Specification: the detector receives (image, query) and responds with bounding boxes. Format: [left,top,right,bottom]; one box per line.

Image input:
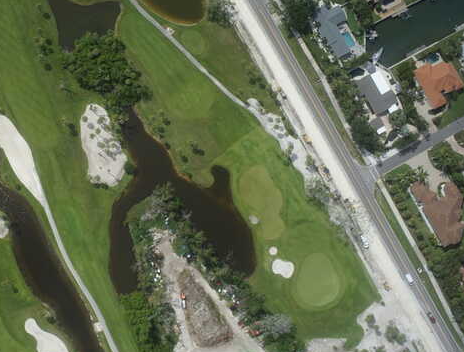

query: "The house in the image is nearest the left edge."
[314,2,355,61]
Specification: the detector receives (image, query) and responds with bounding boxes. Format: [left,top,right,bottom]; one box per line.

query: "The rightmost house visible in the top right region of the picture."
[415,55,464,110]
